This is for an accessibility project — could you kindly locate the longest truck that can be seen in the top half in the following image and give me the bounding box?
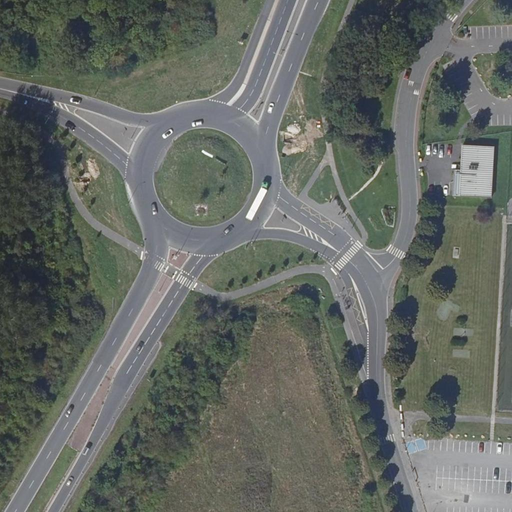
[248,178,270,218]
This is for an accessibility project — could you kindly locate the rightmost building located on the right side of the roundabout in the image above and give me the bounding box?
[454,144,495,196]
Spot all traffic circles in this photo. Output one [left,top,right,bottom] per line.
[132,105,276,249]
